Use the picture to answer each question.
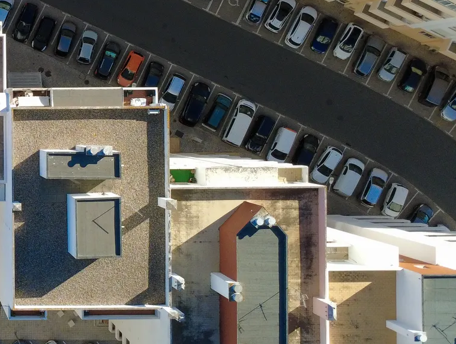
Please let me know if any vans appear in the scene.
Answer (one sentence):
Yes, the photo shows a van.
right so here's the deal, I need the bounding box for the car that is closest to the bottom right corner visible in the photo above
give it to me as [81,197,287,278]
[409,197,437,223]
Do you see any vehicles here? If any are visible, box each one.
[358,167,387,207]
[52,20,79,60]
[159,73,188,110]
[438,83,456,123]
[179,85,209,124]
[379,181,408,215]
[72,25,101,67]
[11,0,40,43]
[375,46,406,85]
[311,146,340,183]
[265,123,298,163]
[409,197,437,223]
[0,0,15,28]
[265,0,294,33]
[288,129,319,168]
[285,6,315,49]
[244,0,272,25]
[202,89,232,135]
[396,59,427,95]
[332,22,362,60]
[93,40,121,81]
[307,14,339,56]
[138,58,166,88]
[245,114,273,153]
[116,49,144,88]
[333,157,363,196]
[223,101,254,146]
[30,14,56,52]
